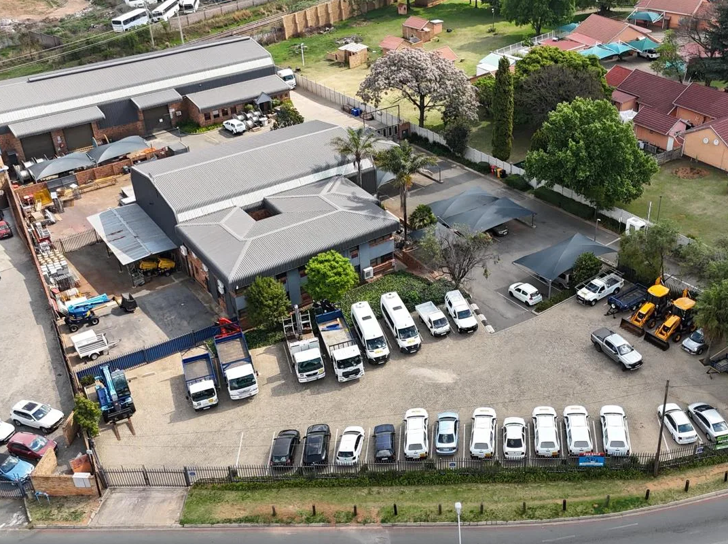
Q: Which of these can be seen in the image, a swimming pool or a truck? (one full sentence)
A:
This aerial view contains a truck.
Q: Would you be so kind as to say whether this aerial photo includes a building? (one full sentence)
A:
Yes, there is a building in the image.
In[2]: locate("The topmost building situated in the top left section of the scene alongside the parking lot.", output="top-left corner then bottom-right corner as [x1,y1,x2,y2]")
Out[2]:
[0,36,291,165]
